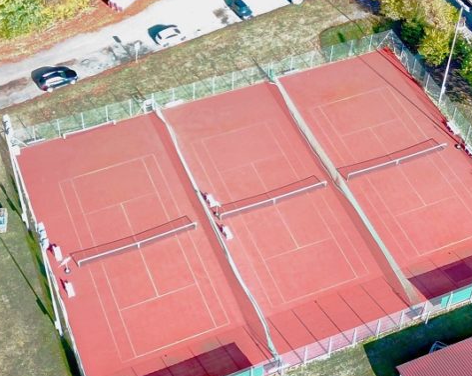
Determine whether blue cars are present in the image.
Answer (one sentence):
Yes, I can see a blue car in this picture.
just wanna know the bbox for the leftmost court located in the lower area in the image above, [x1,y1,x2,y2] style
[18,111,280,376]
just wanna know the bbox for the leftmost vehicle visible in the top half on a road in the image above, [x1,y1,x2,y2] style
[43,67,80,89]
